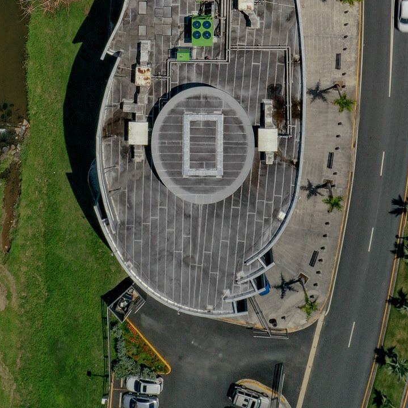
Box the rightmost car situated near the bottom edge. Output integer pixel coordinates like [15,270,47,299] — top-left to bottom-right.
[228,382,270,408]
